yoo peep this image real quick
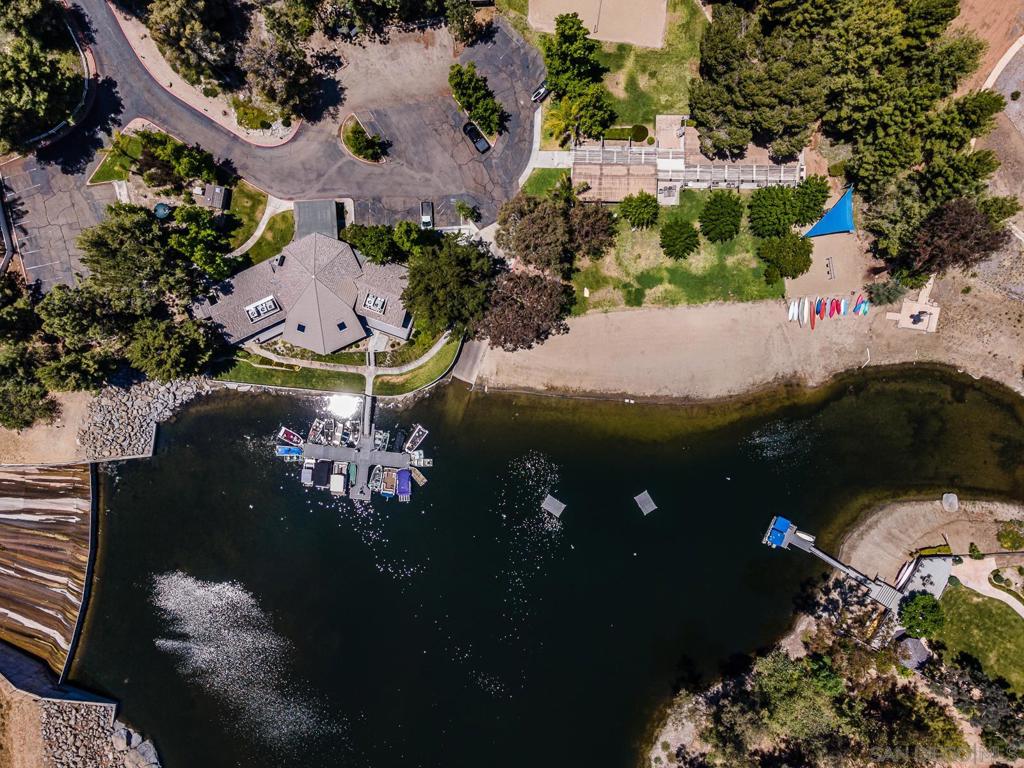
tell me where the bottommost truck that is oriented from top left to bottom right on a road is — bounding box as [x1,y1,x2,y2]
[463,119,490,154]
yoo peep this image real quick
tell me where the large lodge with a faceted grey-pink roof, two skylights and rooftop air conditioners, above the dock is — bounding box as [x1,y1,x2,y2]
[193,200,415,355]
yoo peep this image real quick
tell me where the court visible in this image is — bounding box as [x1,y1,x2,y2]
[528,0,666,48]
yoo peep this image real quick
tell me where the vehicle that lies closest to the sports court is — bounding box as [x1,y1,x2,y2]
[529,80,547,102]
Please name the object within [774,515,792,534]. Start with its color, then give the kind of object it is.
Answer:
blue boat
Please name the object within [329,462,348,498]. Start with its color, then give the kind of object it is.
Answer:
white boat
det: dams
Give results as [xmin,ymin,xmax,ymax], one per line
[0,455,98,693]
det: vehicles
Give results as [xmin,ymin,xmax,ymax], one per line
[331,20,359,39]
[529,80,547,102]
[463,119,490,154]
[419,198,433,231]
